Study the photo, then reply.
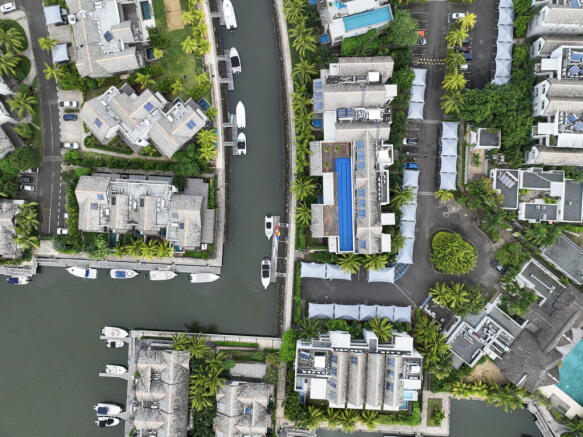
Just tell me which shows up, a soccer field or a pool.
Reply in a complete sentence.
The one in the frame is a pool.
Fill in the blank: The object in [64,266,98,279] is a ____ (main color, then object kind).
white boat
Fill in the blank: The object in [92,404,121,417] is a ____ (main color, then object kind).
white boat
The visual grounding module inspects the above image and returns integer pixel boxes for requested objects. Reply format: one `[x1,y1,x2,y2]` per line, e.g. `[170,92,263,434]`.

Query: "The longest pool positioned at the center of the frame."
[335,157,353,252]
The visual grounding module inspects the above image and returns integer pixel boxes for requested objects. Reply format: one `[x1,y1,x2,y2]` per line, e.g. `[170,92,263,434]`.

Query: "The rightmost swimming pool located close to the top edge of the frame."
[342,7,389,33]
